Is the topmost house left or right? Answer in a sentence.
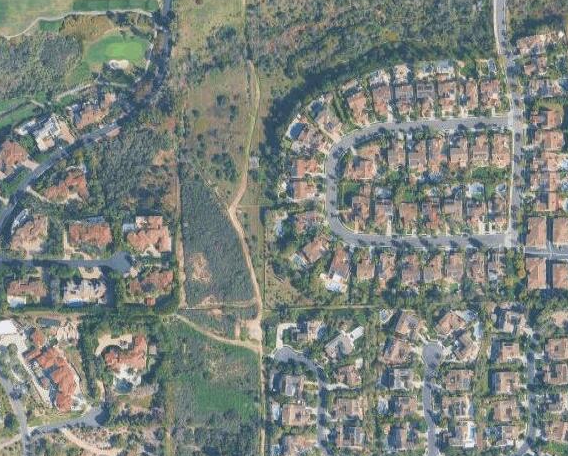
The topmost house is on the right side of the image.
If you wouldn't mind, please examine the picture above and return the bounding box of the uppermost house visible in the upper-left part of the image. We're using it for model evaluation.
[74,88,119,131]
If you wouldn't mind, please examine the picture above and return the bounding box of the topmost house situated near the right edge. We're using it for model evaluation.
[515,31,556,54]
